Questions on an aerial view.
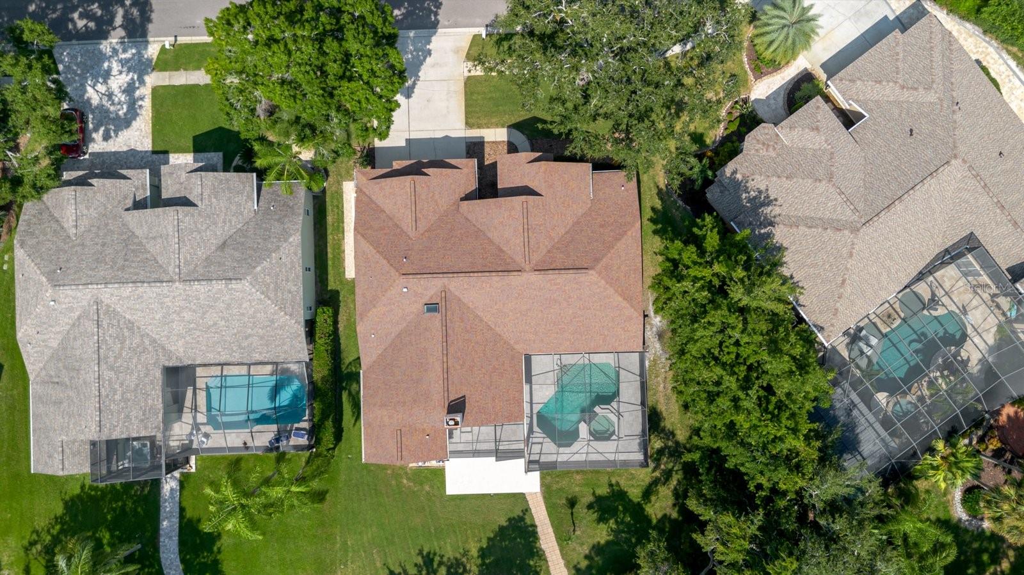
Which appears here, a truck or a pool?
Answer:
pool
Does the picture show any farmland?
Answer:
No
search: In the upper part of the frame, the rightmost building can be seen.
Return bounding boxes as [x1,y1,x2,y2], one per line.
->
[704,12,1024,358]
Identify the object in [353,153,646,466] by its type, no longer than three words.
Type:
house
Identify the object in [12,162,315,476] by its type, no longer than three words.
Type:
house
